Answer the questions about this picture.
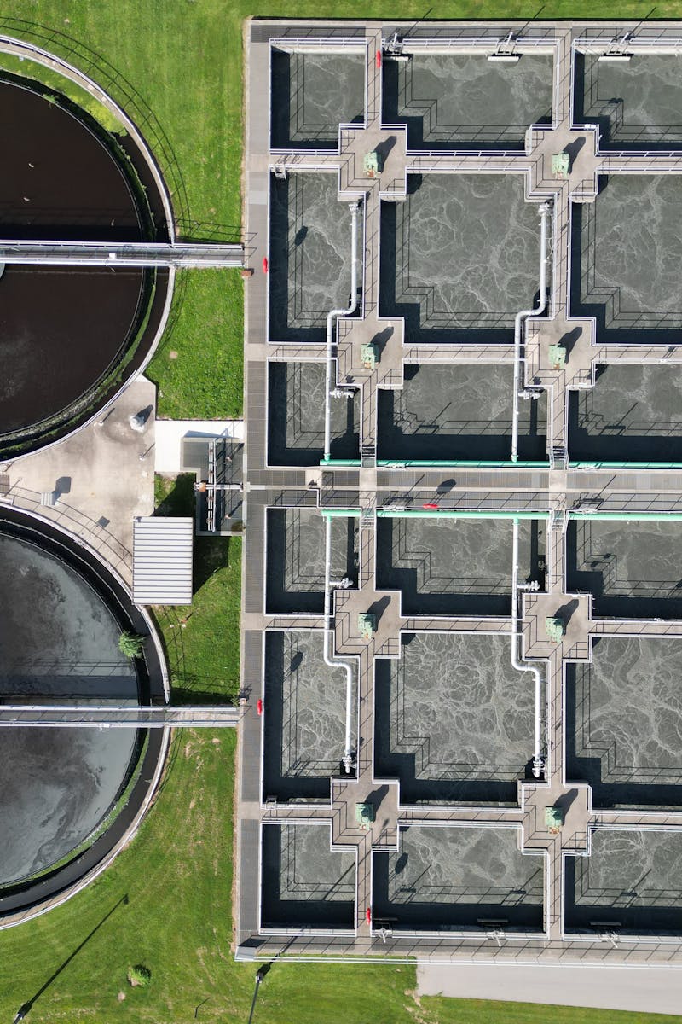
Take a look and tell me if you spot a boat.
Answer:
No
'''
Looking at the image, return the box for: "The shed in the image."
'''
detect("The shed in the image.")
[134,516,197,605]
